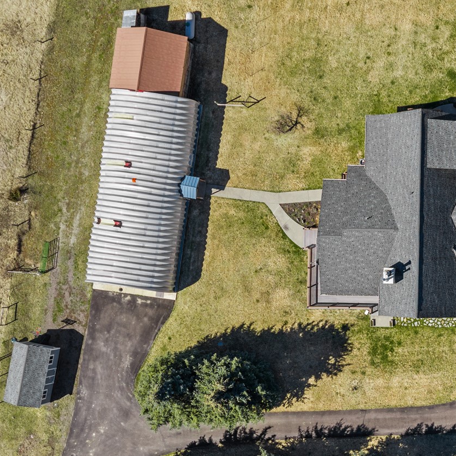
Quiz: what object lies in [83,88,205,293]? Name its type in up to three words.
building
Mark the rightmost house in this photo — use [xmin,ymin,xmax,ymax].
[319,108,456,318]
